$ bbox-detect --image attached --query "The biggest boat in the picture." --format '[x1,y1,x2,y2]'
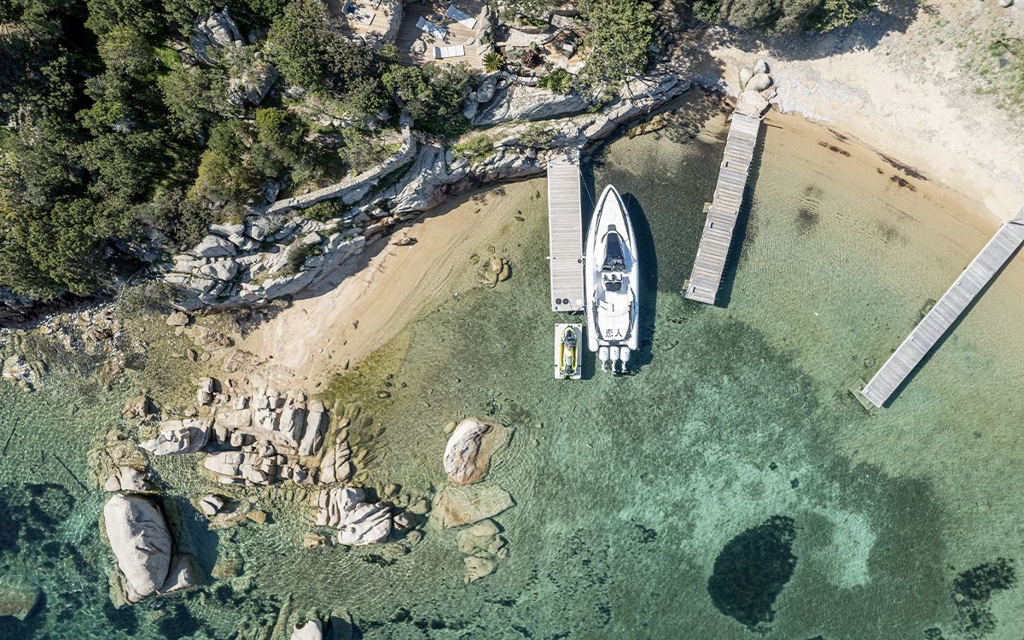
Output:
[585,184,638,374]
